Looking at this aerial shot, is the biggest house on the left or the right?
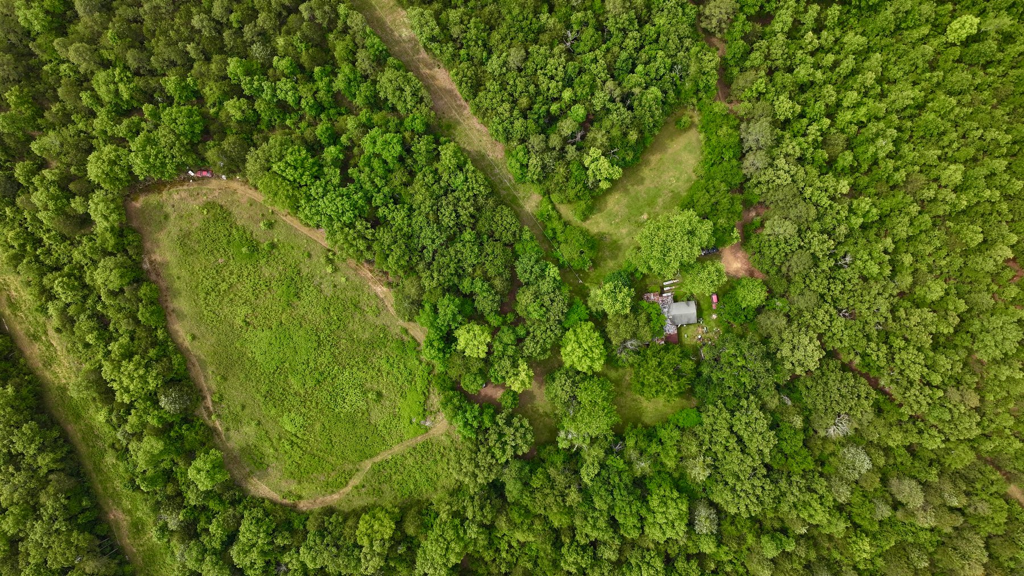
right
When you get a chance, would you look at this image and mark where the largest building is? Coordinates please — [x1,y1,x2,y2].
[669,300,697,324]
